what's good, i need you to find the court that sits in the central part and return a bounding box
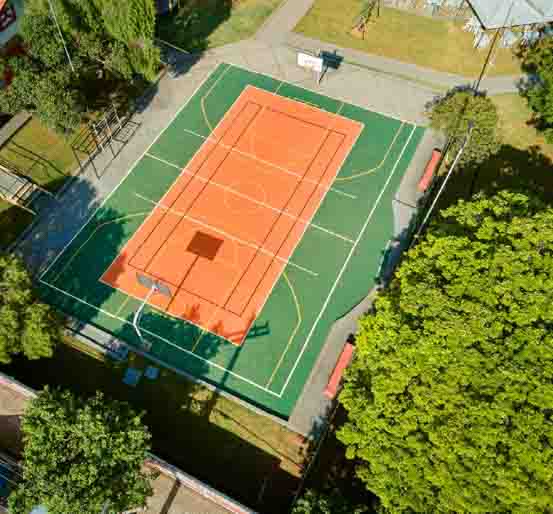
[31,59,428,420]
